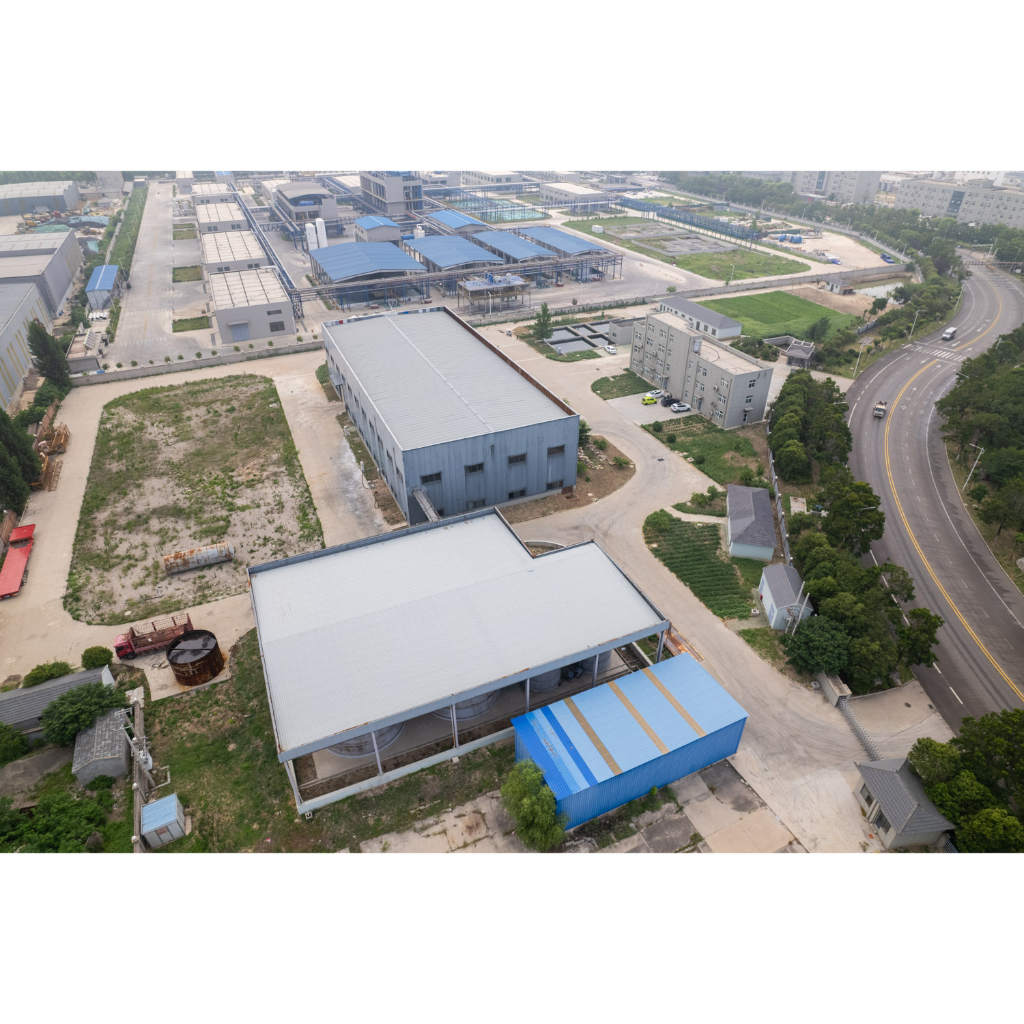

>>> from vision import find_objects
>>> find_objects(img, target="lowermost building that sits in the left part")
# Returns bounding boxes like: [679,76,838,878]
[141,793,193,847]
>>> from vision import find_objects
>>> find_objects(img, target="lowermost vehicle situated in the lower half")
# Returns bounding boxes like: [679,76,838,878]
[113,602,200,660]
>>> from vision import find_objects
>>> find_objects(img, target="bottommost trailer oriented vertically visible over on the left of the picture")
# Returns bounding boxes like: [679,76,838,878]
[0,521,36,604]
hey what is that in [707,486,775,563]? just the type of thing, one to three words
house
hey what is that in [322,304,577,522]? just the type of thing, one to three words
warehouse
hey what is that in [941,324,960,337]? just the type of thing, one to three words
vehicle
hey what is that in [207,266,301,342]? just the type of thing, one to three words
building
